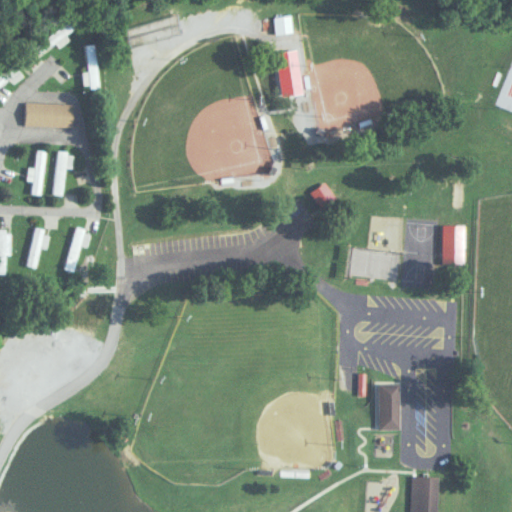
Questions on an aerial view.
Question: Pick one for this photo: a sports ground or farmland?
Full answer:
It's a sports ground.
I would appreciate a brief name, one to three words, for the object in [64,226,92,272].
house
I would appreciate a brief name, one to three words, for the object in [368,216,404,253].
playground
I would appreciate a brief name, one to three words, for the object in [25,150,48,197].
house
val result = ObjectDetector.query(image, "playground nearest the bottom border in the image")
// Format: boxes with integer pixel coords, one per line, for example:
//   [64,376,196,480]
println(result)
[366,474,399,512]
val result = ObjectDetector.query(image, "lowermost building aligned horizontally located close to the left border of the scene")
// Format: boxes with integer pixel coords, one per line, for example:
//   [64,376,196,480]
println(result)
[26,103,74,127]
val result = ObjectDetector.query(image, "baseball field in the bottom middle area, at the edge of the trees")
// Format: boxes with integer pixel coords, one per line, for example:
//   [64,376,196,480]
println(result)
[131,282,339,486]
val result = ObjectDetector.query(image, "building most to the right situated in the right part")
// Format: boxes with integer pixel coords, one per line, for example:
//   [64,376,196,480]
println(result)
[442,225,467,266]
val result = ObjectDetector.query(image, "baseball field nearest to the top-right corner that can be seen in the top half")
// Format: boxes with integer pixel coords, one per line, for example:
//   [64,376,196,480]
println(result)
[298,13,444,133]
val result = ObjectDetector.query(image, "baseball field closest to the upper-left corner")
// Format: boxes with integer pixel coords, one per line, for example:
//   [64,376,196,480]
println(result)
[132,36,273,192]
